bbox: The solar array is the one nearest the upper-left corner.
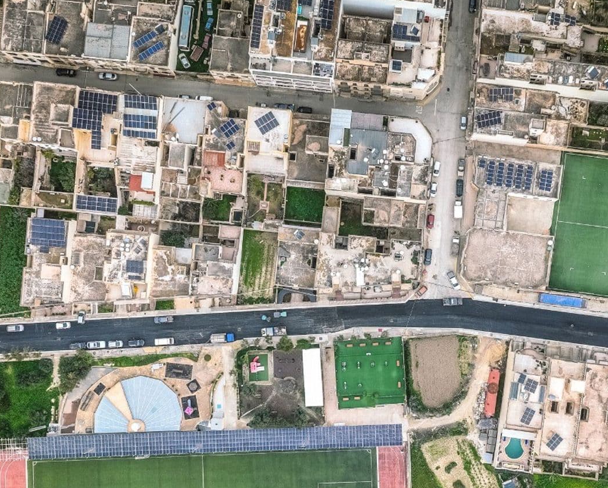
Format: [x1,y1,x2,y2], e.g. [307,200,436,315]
[48,15,66,42]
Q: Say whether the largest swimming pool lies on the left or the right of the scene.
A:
right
